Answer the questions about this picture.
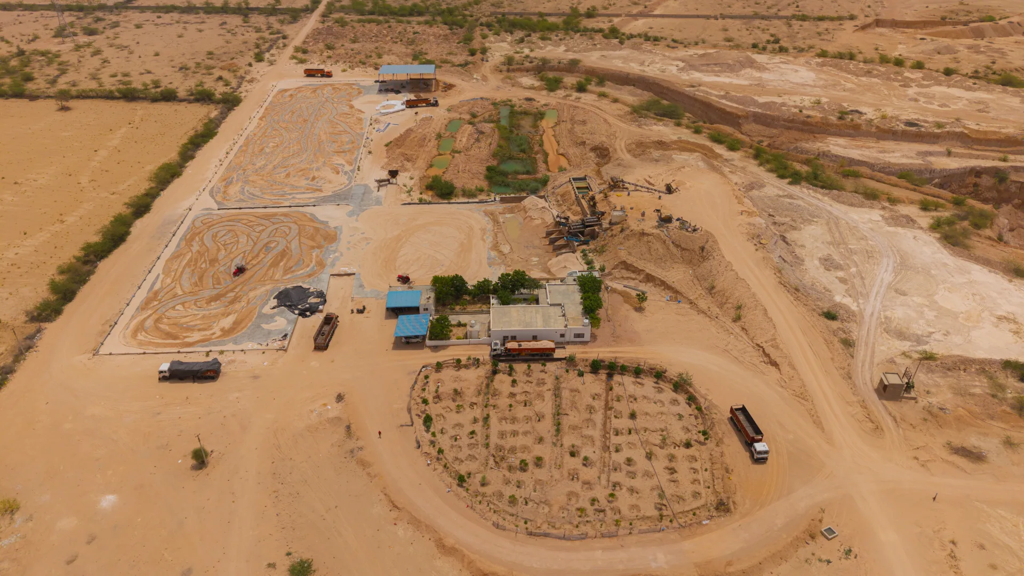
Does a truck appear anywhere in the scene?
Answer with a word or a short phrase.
Yes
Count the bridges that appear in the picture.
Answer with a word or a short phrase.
none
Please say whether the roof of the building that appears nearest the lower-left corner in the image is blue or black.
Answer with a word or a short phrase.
blue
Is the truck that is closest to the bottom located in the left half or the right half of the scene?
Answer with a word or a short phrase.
right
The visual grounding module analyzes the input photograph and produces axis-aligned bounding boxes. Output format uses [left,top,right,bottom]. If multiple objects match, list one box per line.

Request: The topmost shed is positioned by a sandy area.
[375,62,440,92]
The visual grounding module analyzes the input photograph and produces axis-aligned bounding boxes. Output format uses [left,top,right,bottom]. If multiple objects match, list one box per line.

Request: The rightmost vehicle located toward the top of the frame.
[648,197,672,224]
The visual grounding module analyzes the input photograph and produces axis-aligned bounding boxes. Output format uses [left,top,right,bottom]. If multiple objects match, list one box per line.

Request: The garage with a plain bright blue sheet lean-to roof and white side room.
[385,286,431,319]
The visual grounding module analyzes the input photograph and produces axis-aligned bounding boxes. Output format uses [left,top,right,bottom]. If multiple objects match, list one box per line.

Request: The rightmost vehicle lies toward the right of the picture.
[733,405,775,460]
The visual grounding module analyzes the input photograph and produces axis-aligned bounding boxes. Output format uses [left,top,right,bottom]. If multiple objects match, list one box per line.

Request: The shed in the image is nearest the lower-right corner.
[878,371,918,399]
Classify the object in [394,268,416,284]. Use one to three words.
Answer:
work vehicle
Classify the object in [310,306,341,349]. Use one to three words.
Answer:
truck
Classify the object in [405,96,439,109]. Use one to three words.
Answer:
vehicle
